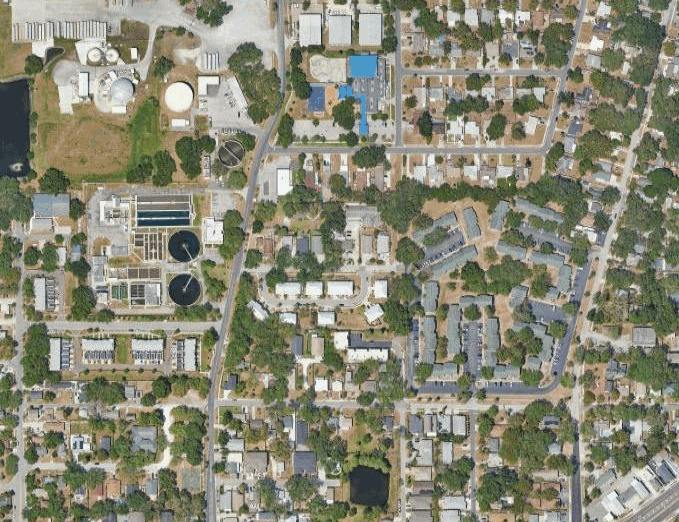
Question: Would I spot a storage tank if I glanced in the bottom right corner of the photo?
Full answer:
No, there is no storage tank in the bottom right corner of the photo.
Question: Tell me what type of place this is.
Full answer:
It's a residential area.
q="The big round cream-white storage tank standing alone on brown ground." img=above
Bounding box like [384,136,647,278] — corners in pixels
[164,82,194,111]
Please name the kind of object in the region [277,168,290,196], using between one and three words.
house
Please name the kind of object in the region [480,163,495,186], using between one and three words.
house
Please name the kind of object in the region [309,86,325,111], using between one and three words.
sports court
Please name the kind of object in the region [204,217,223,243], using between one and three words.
building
